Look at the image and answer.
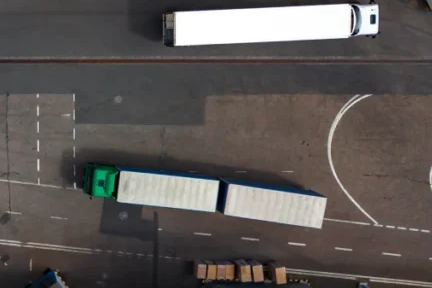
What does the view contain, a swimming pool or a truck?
truck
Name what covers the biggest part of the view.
paved ground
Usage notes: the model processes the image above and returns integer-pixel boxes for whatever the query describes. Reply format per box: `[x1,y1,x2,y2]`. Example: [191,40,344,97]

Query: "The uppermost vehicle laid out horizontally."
[159,0,378,46]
